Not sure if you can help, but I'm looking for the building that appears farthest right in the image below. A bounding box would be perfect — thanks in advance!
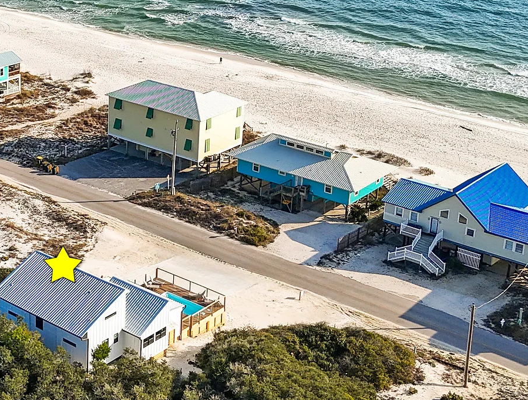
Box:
[377,156,528,282]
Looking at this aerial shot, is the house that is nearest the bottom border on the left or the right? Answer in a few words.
left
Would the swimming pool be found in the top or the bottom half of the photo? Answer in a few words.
bottom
